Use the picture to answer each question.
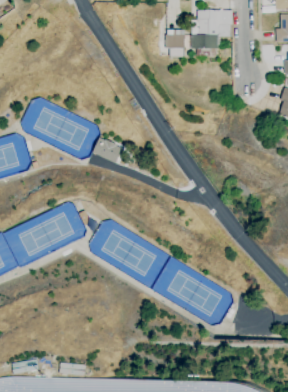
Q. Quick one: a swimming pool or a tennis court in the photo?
tennis court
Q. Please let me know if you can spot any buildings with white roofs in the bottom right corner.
No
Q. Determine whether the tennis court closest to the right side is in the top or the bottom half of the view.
bottom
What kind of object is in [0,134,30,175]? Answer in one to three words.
tennis court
